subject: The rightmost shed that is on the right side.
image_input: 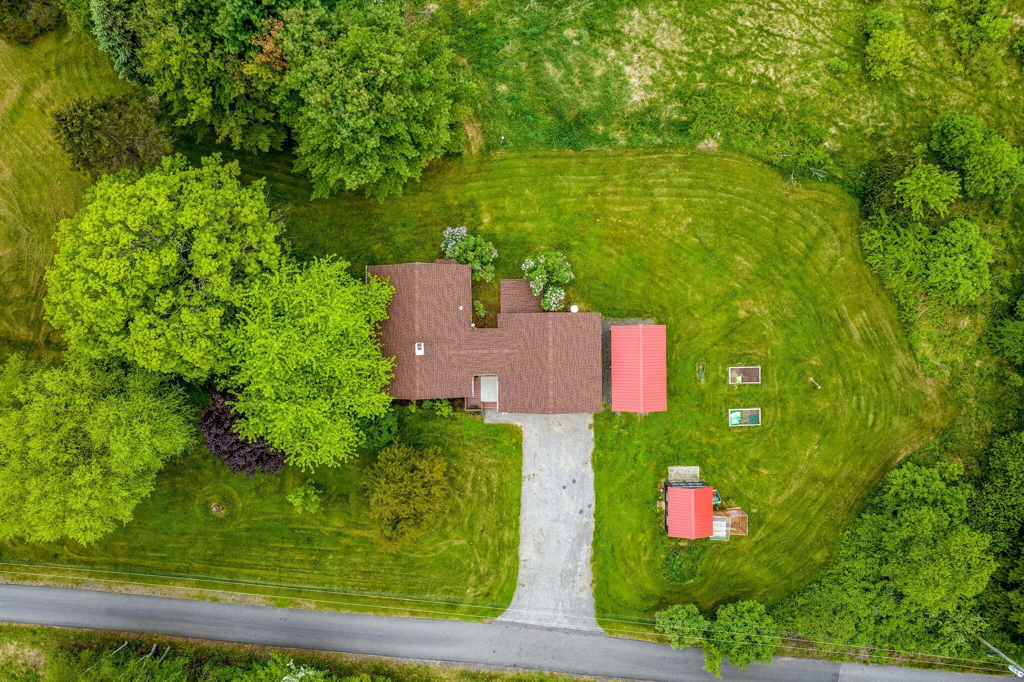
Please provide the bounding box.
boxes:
[665,481,713,542]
